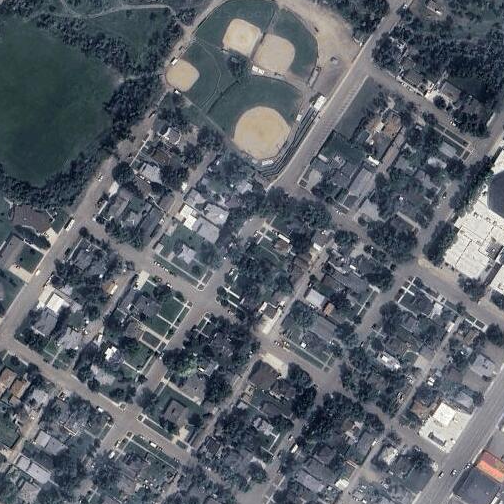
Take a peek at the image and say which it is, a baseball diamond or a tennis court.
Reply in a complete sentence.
Looking from above, you can make out a baseball diamond.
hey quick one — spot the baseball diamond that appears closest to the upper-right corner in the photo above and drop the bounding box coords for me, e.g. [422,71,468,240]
[254,8,317,79]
